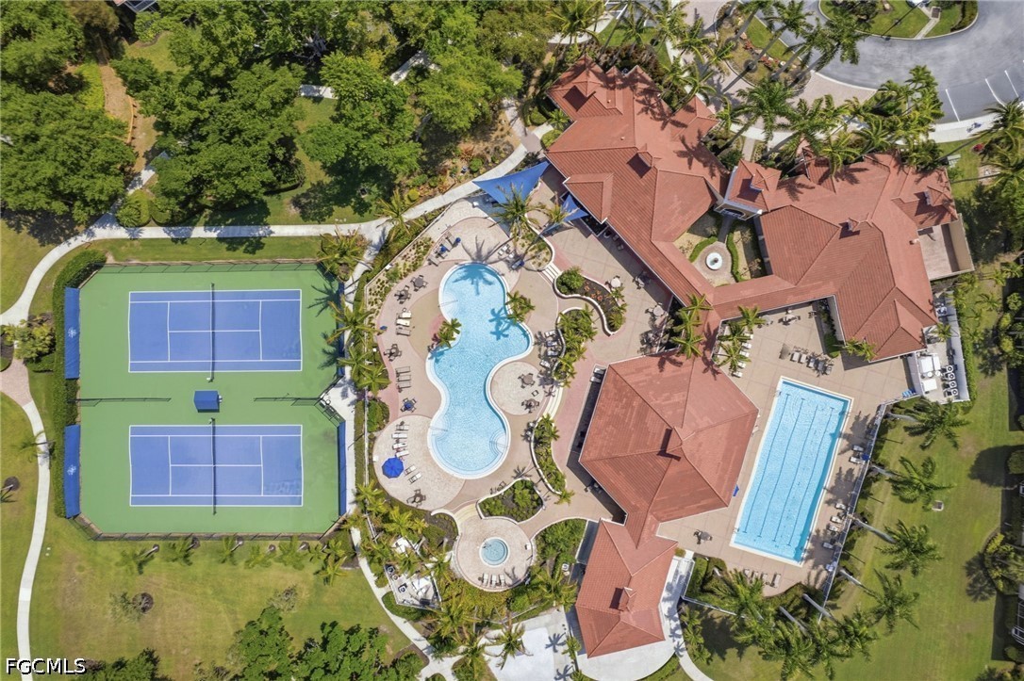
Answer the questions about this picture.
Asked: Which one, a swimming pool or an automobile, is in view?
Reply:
swimming pool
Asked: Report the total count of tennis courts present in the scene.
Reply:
2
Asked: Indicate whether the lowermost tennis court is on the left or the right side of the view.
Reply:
left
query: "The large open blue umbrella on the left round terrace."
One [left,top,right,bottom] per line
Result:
[382,456,404,478]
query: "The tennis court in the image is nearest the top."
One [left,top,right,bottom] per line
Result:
[80,264,337,401]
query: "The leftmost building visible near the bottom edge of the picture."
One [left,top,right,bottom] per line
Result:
[575,508,679,660]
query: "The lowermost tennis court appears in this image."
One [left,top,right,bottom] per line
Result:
[80,399,338,535]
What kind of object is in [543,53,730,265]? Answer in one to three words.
building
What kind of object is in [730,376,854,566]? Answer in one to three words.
swimming pool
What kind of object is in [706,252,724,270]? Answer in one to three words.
fountain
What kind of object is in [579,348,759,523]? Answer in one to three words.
building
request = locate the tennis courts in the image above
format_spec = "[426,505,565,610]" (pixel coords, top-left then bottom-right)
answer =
[80,264,337,401]
[80,399,338,535]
